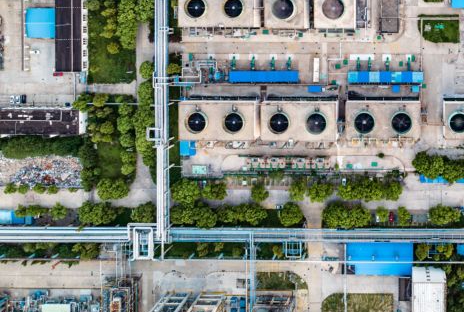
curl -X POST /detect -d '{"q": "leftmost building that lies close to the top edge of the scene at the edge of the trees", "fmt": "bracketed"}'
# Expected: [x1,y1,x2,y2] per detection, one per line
[55,0,92,71]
